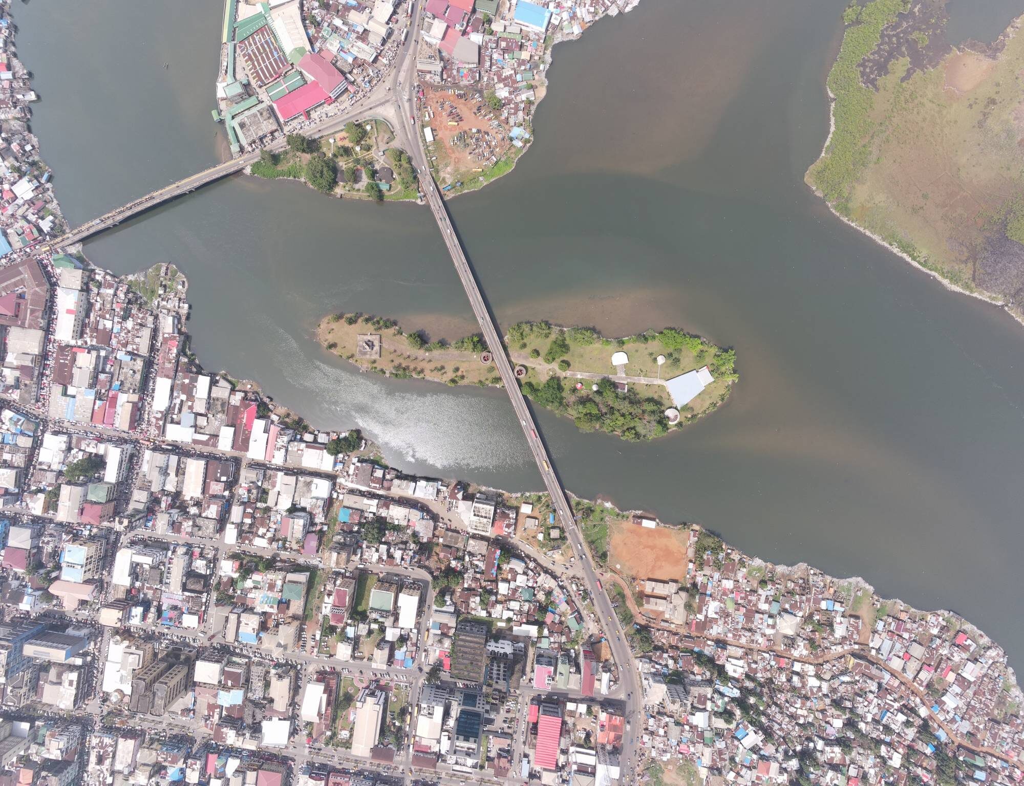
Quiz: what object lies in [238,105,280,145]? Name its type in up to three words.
house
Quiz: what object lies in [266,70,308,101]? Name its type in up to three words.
house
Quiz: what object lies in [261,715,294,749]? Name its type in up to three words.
building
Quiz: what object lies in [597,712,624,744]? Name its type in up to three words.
building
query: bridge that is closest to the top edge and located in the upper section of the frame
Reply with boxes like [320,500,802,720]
[40,155,245,257]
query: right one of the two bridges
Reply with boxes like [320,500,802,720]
[417,166,563,498]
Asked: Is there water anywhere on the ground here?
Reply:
Yes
